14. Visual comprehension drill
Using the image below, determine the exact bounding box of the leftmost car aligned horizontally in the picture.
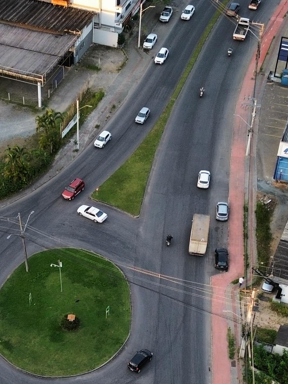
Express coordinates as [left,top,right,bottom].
[76,207,108,224]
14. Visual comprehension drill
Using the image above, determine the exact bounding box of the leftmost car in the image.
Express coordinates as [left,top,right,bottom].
[62,178,85,201]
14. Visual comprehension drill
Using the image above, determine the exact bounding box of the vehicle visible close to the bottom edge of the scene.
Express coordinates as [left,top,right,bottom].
[126,350,154,375]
